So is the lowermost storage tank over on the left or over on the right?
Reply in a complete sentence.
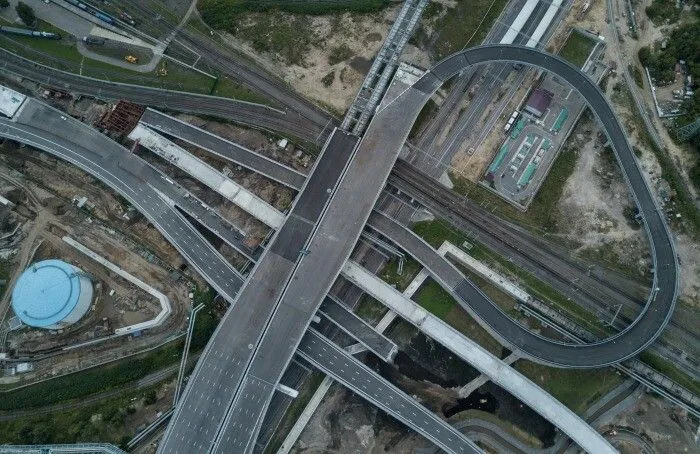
It is on the left.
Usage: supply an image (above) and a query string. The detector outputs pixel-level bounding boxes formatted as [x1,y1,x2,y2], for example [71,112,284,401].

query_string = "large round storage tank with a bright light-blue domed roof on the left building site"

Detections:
[10,258,92,328]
